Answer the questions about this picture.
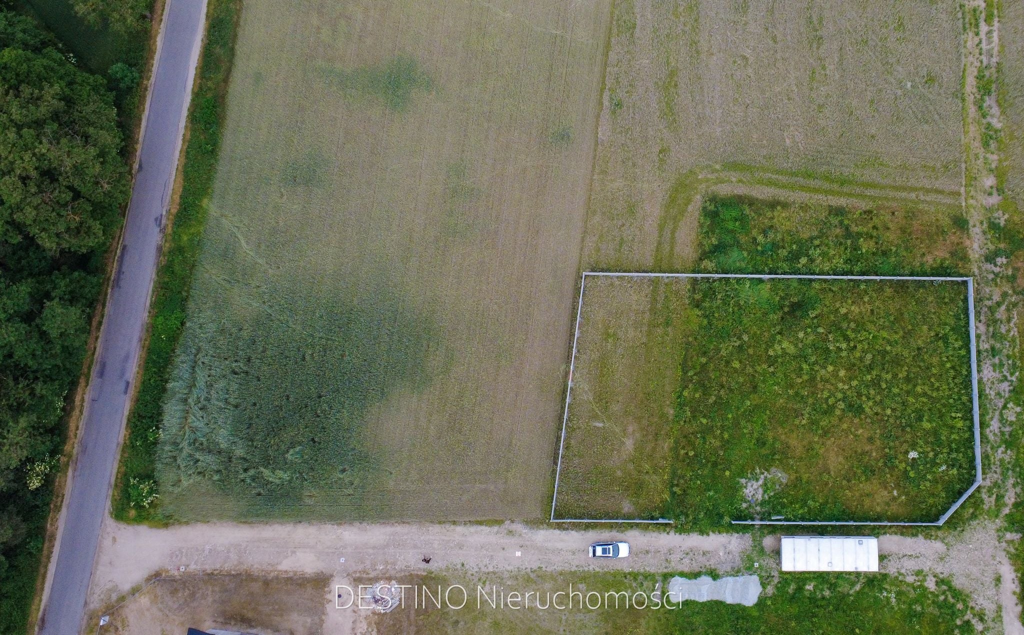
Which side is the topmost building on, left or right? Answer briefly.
right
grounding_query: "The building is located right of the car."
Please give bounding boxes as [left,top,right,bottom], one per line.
[781,538,879,572]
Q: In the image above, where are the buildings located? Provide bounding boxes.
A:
[185,627,227,635]
[781,538,879,572]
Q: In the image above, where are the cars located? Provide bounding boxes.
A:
[589,542,630,560]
